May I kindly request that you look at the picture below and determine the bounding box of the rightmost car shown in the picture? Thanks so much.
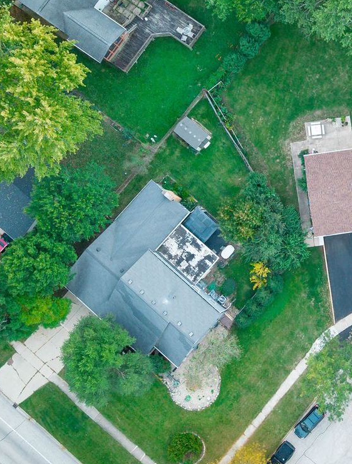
[292,408,325,442]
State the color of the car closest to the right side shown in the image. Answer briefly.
blue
